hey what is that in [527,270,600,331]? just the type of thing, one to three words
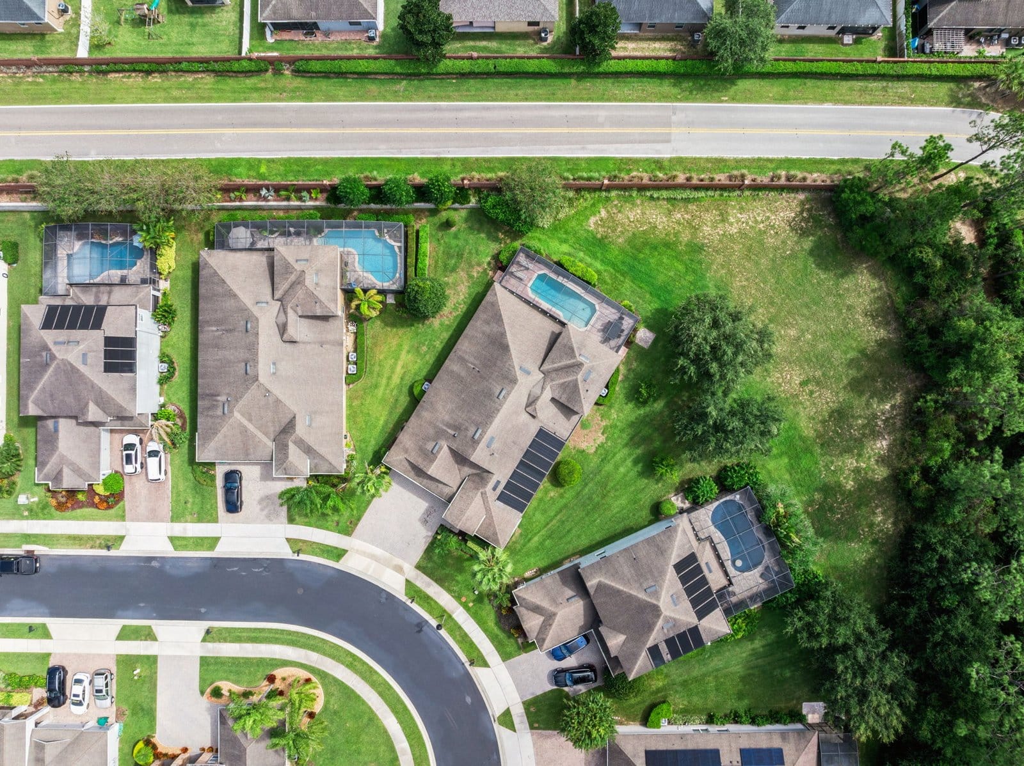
swimming pool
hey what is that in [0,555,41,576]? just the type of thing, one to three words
truck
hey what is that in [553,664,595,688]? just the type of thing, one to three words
car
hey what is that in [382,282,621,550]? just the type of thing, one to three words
house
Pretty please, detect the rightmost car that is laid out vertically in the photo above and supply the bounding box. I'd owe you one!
[223,470,244,513]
